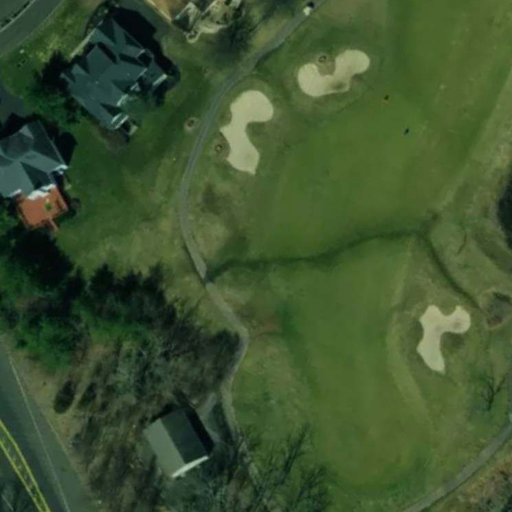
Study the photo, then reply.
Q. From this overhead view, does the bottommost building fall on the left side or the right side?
left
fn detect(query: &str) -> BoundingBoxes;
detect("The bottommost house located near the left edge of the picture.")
[0,117,69,230]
